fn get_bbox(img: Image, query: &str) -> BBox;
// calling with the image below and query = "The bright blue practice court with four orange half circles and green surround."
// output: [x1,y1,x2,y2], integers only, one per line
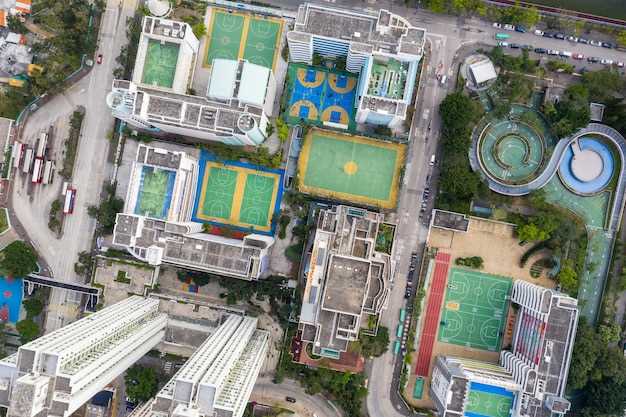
[279,62,361,131]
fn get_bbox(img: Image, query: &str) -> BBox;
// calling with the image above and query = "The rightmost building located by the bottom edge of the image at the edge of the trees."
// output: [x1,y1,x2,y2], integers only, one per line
[427,279,580,417]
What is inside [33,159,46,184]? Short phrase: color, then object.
white vehicle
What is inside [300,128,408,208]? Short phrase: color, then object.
green sports field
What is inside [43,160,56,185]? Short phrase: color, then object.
white vehicle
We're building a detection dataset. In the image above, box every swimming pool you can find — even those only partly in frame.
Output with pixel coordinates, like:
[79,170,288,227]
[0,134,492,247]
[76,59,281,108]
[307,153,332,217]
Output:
[558,136,613,193]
